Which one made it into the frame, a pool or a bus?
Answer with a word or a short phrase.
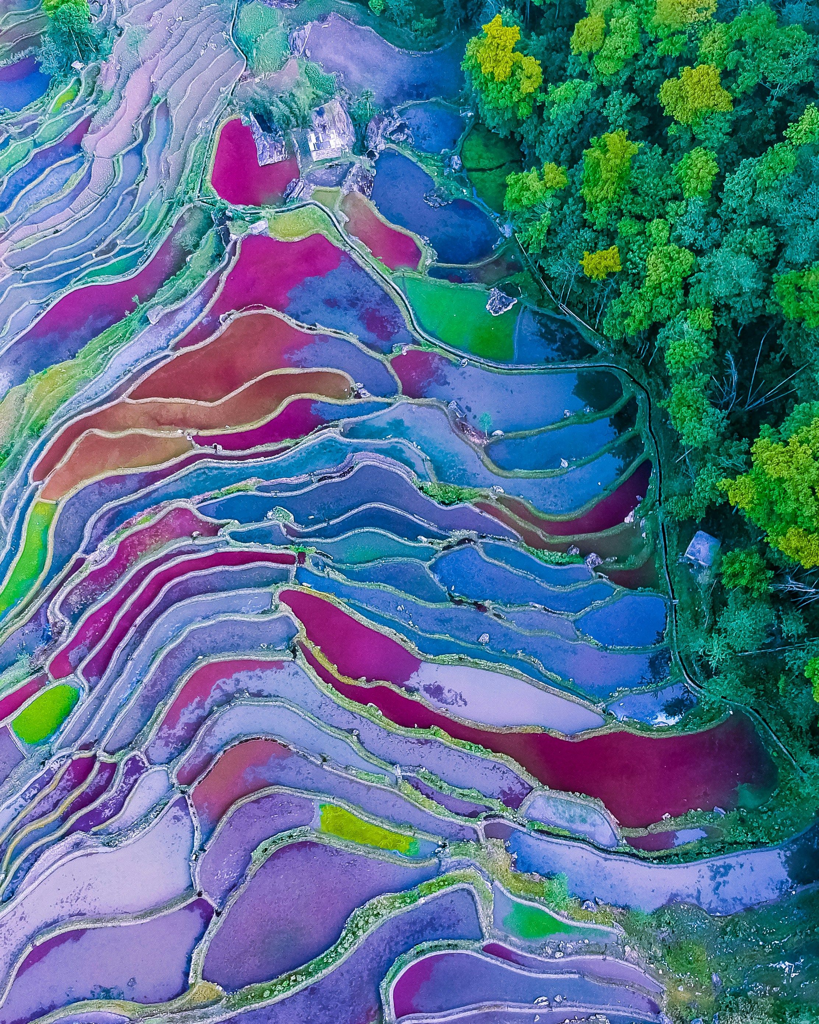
pool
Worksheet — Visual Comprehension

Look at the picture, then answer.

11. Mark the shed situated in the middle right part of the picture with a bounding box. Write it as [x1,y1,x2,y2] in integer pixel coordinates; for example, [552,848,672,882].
[681,530,722,567]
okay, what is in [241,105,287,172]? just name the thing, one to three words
house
